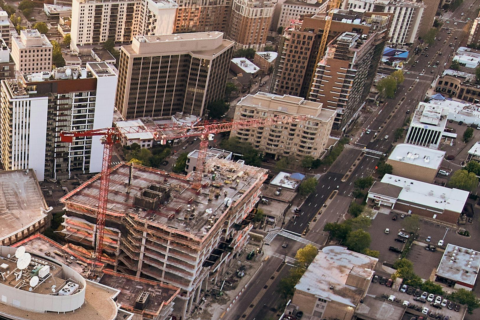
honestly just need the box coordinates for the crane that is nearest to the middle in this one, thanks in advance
[155,115,309,188]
